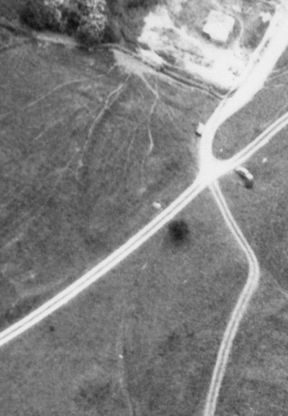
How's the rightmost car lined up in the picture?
diagonally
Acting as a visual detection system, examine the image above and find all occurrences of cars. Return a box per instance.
[235,164,256,184]
[195,121,209,137]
